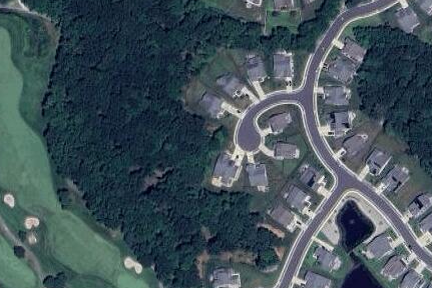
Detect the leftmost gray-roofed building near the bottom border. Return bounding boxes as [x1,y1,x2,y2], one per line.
[208,265,238,288]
